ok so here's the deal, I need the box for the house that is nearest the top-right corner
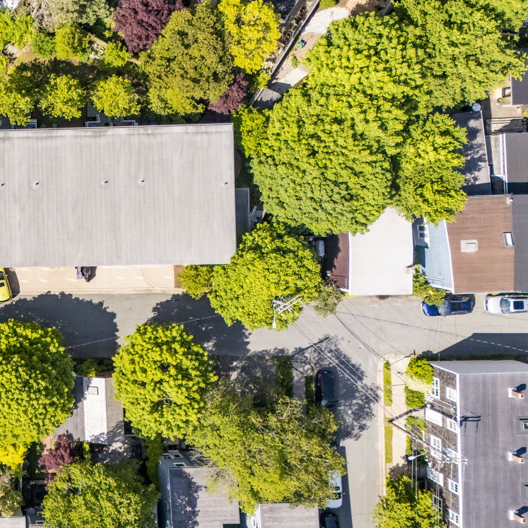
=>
[484,73,528,108]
